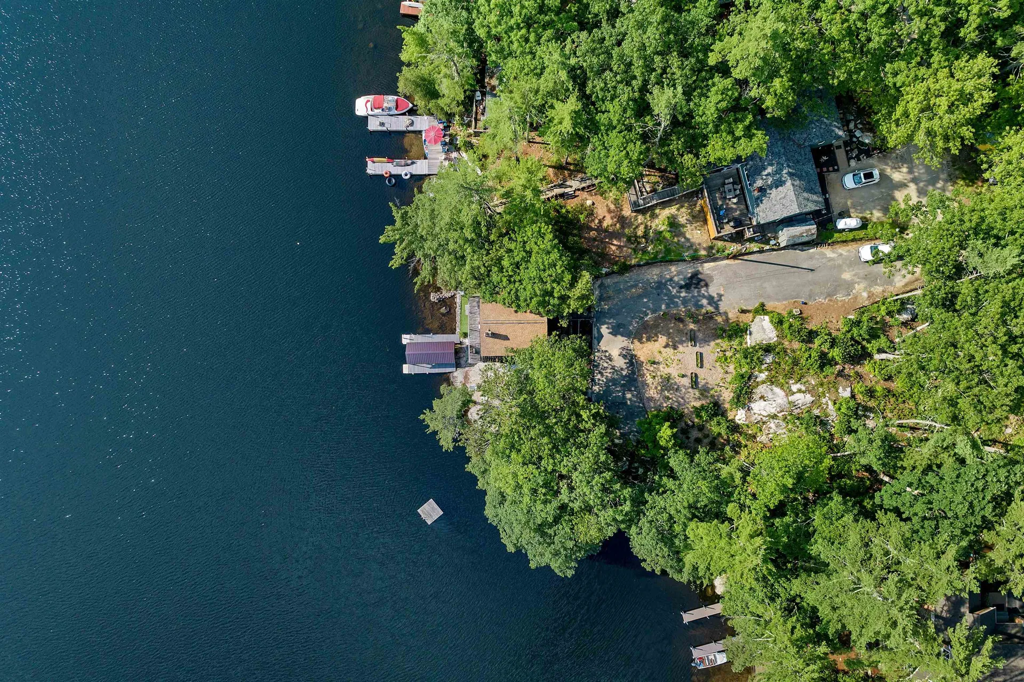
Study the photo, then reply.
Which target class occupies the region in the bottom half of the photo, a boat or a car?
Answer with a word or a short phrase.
boat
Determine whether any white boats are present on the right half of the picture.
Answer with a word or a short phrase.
Yes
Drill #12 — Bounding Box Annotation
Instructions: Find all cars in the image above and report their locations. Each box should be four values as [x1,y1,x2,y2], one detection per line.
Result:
[861,241,898,260]
[843,166,885,190]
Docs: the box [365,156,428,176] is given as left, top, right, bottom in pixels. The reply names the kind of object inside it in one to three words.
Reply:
pier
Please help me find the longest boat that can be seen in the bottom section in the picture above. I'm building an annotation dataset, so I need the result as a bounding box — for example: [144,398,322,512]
[692,652,728,670]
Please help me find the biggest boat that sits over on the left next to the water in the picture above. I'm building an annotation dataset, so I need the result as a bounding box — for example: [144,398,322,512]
[355,93,413,116]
